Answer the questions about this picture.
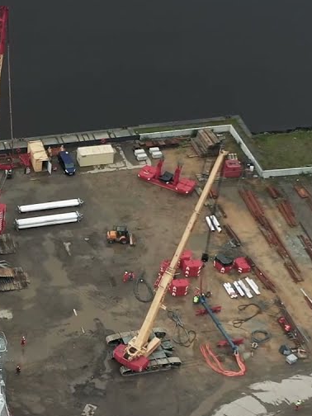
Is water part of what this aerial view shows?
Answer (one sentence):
Yes, water can be seen from above here.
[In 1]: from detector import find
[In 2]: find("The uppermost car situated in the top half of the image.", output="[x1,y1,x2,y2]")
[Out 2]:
[60,153,76,171]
